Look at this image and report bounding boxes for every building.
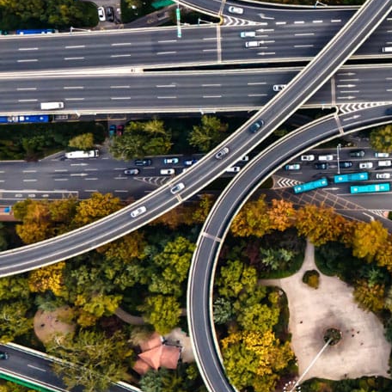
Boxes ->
[131,334,181,383]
